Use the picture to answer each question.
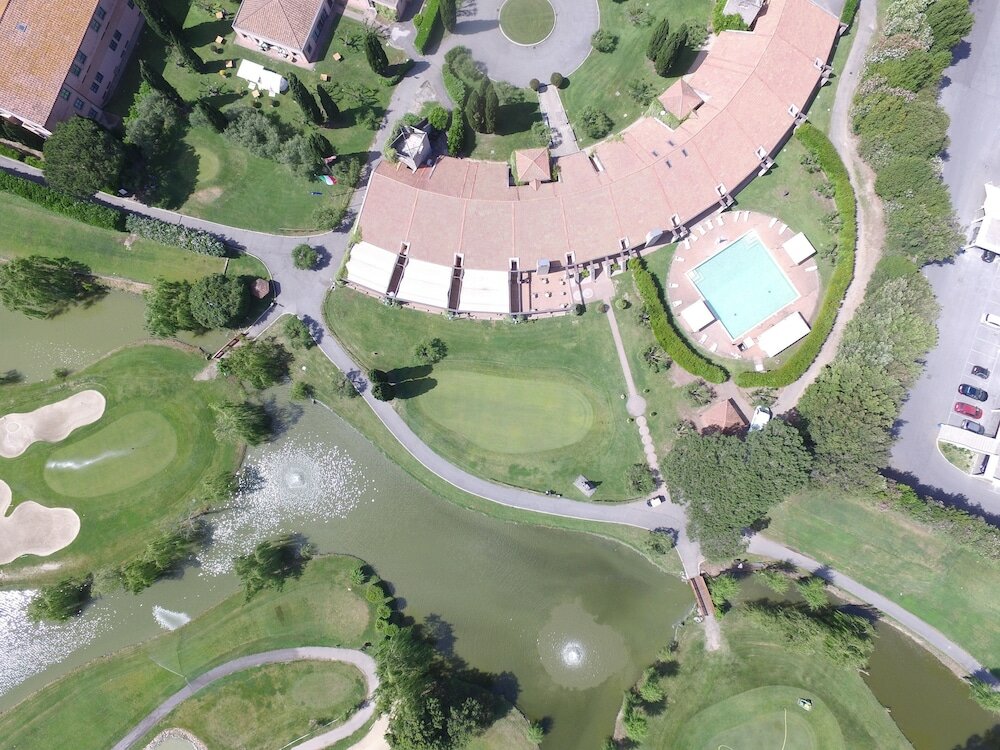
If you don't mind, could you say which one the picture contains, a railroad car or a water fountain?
water fountain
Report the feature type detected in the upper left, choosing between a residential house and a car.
residential house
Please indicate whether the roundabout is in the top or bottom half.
top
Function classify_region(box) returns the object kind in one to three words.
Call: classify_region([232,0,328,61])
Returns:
house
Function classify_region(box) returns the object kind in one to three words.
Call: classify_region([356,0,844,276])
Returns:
building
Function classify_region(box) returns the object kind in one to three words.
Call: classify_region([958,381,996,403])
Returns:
car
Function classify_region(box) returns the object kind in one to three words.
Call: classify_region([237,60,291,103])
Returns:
tent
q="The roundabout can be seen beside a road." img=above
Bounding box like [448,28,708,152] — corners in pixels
[455,0,600,88]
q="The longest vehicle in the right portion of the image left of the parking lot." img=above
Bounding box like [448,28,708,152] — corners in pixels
[750,404,773,437]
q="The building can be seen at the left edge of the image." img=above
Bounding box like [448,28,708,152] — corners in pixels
[0,0,140,134]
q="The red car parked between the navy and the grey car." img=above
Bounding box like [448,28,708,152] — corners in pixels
[954,400,989,421]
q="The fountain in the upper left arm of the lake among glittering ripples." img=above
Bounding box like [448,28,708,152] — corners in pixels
[261,452,328,510]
